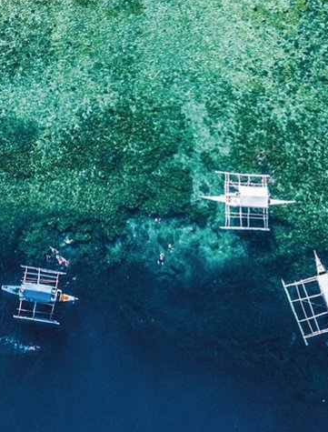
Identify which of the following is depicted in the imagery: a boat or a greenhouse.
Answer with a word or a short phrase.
boat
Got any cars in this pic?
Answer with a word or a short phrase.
No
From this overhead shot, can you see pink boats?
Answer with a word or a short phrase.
No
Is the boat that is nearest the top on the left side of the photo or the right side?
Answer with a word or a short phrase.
right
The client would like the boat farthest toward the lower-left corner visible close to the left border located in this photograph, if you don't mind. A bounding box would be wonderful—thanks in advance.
[2,265,81,324]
